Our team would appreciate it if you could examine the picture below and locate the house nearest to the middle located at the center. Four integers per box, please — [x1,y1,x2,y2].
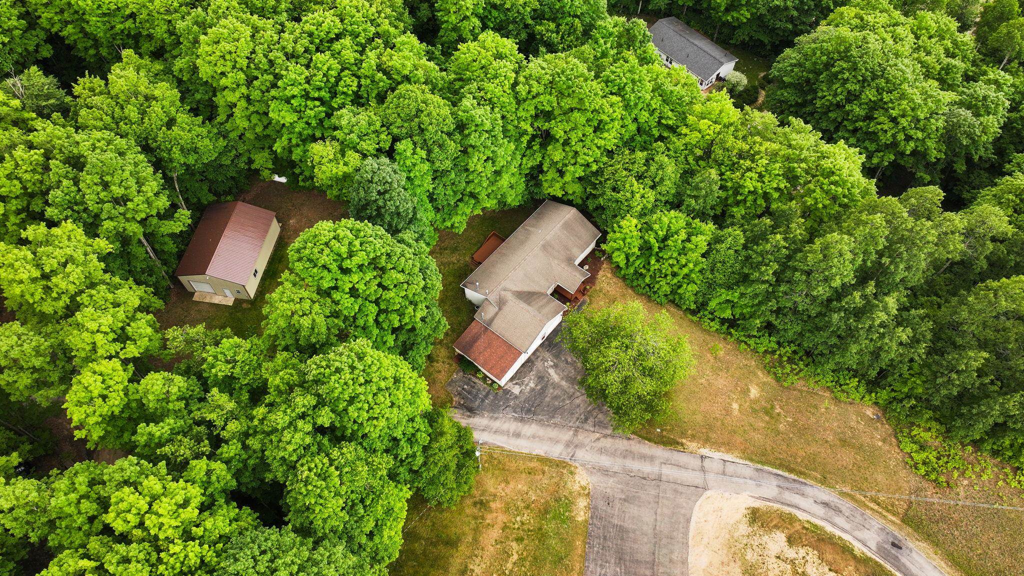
[453,200,601,386]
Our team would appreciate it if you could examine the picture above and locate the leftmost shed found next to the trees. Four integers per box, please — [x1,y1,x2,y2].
[174,201,280,299]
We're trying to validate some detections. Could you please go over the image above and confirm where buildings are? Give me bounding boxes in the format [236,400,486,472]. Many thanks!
[453,200,601,386]
[174,201,280,299]
[640,17,737,89]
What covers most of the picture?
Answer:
trees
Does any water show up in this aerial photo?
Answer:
No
